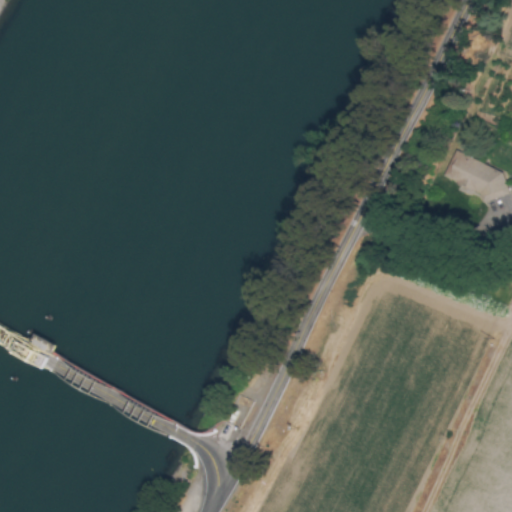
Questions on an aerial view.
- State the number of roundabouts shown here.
0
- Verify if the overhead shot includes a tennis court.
No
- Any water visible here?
Yes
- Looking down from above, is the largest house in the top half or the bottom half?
top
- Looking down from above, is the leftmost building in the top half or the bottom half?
bottom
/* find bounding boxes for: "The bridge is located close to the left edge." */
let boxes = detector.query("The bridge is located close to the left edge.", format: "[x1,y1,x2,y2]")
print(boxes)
[0,322,183,440]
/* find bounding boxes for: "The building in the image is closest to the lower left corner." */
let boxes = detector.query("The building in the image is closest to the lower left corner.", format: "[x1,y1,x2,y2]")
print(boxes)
[30,330,62,352]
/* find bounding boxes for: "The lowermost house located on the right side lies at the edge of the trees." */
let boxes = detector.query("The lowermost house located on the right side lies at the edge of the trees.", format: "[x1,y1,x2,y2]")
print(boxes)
[446,150,510,203]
